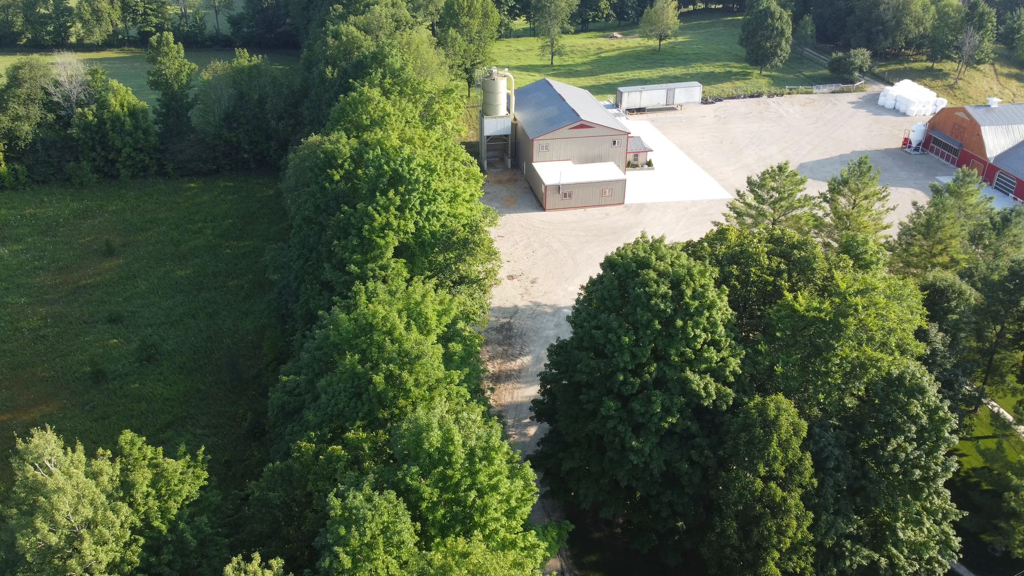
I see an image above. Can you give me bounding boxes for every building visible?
[507,77,655,211]
[918,93,1024,204]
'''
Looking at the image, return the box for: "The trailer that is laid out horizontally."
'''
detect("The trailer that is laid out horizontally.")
[618,80,704,112]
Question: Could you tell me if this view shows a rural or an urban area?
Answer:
rural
